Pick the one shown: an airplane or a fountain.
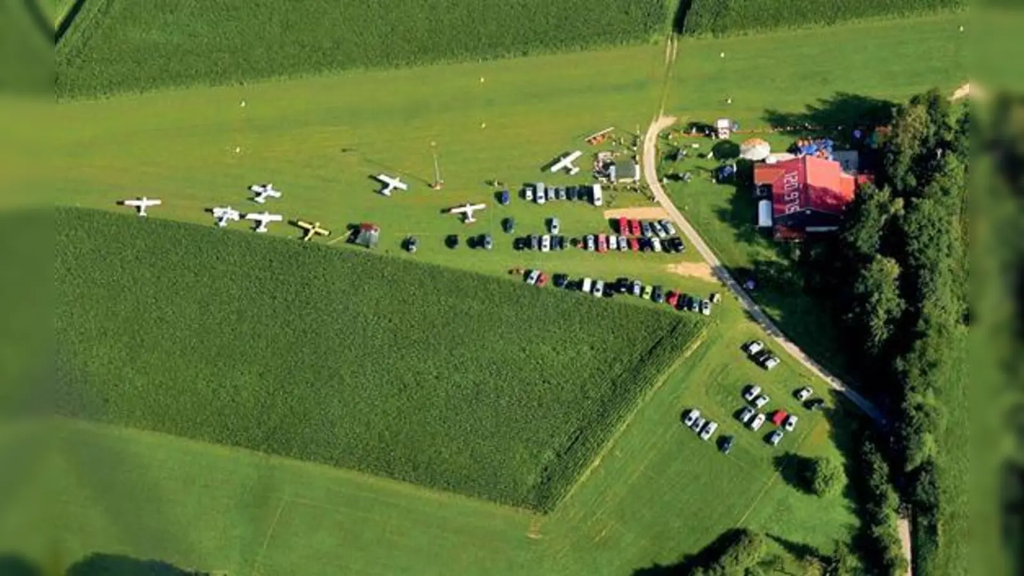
airplane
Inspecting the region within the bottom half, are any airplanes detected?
No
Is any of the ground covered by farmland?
Yes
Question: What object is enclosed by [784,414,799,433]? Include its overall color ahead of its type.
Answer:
white car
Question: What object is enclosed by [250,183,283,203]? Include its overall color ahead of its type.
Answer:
white airplane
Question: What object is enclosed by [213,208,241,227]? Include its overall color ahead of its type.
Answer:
white airplane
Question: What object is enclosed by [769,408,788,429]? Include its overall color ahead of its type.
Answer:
red vehicle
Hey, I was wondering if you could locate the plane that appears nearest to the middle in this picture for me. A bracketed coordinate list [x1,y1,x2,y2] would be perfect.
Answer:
[449,204,487,224]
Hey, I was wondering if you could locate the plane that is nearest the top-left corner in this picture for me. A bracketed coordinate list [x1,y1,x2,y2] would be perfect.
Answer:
[123,197,161,217]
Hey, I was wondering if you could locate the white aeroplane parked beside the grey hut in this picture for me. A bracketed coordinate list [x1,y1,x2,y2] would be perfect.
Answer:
[549,151,583,175]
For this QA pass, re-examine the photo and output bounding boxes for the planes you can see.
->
[376,174,408,196]
[449,204,487,224]
[213,208,241,227]
[250,183,283,203]
[123,197,161,217]
[296,218,332,241]
[245,211,283,232]
[549,151,583,175]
